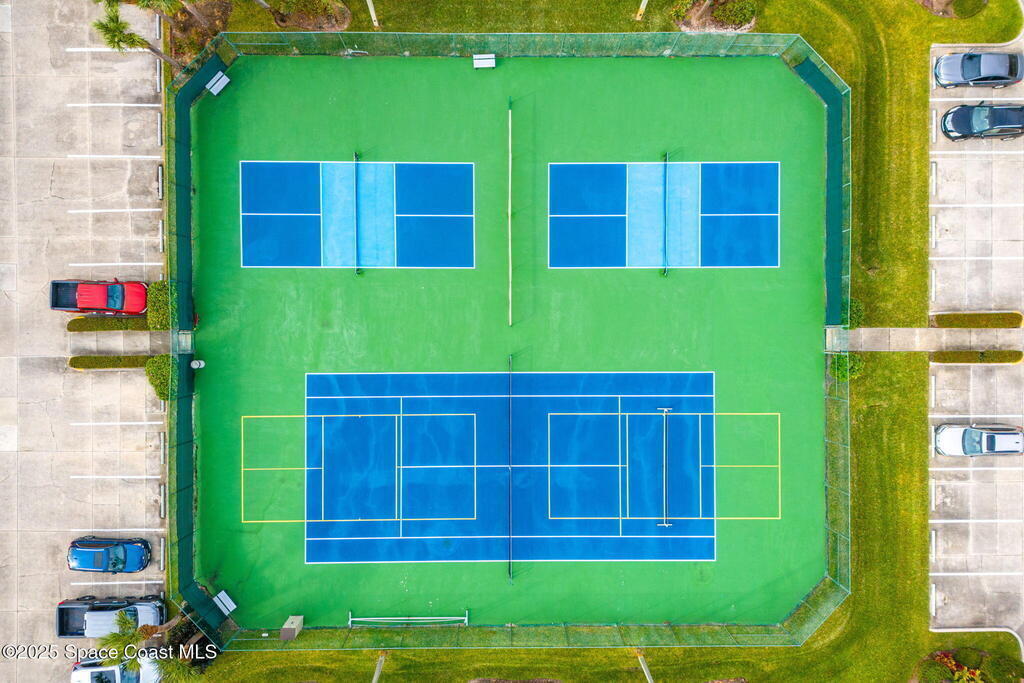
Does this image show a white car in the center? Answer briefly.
No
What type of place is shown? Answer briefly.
sports ground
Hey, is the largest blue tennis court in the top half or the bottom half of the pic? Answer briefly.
bottom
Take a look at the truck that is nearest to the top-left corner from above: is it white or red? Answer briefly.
red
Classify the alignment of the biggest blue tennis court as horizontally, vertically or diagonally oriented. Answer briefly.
horizontally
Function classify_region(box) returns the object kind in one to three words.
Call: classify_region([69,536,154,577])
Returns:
car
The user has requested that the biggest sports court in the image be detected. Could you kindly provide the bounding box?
[192,53,827,630]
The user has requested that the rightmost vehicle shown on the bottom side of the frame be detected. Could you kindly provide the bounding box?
[933,422,1022,461]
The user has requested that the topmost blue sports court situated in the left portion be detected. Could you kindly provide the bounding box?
[240,161,475,268]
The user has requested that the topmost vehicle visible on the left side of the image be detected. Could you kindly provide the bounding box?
[51,277,151,318]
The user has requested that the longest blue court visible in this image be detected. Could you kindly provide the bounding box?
[305,371,717,564]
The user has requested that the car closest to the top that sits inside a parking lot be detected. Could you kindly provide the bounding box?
[932,47,1021,89]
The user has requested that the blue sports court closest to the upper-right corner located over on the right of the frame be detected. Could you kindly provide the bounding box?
[548,162,780,268]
